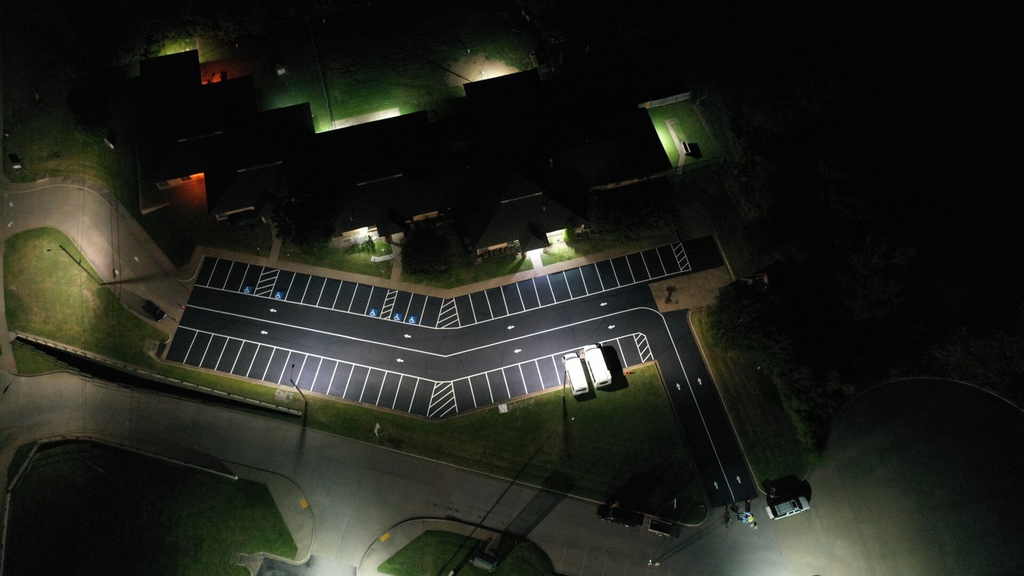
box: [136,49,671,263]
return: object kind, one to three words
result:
building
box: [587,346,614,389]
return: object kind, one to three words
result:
vehicle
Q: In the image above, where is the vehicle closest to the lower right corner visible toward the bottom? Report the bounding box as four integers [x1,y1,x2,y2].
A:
[769,497,814,520]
